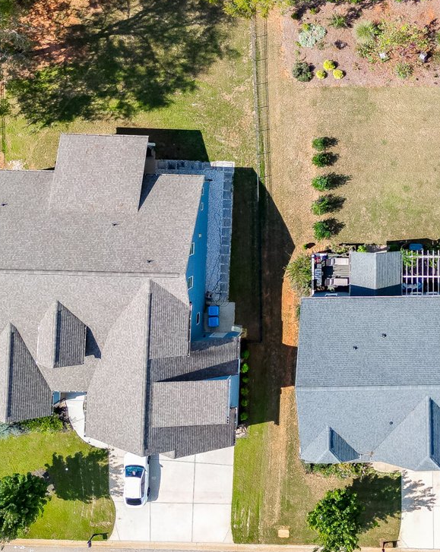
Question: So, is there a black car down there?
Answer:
No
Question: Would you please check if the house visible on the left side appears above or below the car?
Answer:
above it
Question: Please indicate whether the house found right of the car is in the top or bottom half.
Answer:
bottom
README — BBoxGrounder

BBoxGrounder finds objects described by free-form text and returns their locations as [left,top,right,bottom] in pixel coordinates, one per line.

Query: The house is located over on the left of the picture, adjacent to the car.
[0,132,242,461]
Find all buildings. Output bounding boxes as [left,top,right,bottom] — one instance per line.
[0,132,242,461]
[295,250,440,472]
